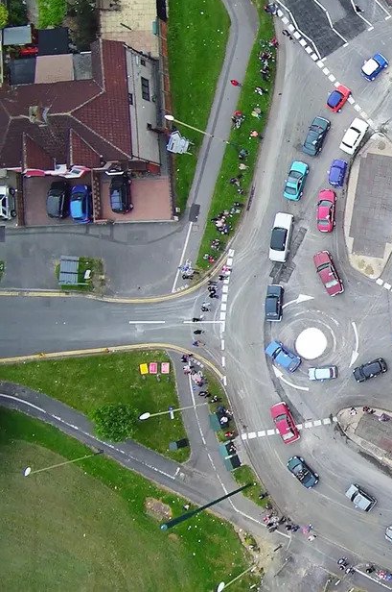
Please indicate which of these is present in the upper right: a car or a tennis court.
car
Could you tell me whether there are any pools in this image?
No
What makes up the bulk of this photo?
paved ground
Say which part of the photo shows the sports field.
bottom left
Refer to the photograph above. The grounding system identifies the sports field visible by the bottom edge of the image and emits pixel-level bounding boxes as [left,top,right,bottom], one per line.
[0,437,189,592]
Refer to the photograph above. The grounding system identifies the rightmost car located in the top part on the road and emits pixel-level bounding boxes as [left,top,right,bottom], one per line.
[360,53,390,82]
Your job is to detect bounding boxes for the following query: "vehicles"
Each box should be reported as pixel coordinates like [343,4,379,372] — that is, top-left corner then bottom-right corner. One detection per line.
[300,116,331,157]
[360,53,390,82]
[325,84,352,113]
[354,357,390,383]
[0,184,12,222]
[345,484,378,513]
[108,178,133,215]
[270,400,301,447]
[309,365,339,382]
[266,341,302,375]
[68,186,89,223]
[310,250,345,299]
[266,213,296,264]
[283,161,308,202]
[328,159,349,189]
[287,453,320,491]
[338,116,370,156]
[265,285,284,322]
[46,183,71,219]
